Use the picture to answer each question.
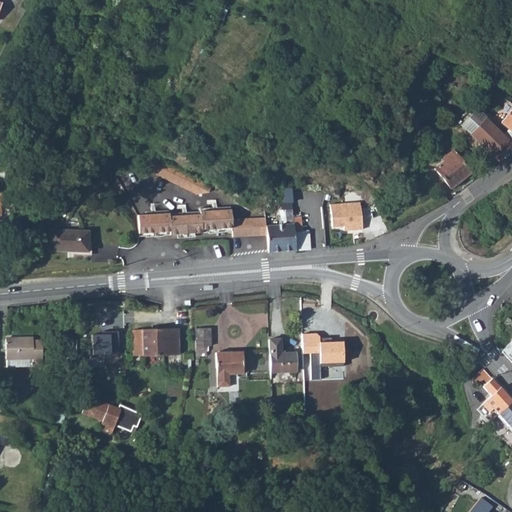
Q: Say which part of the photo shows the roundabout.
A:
right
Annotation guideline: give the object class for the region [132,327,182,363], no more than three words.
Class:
house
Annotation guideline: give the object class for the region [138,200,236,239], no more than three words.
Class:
building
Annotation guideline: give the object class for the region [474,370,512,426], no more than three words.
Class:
house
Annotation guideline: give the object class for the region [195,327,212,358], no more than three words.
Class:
shed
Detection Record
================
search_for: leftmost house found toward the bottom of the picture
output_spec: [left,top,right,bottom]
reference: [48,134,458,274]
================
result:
[5,336,43,369]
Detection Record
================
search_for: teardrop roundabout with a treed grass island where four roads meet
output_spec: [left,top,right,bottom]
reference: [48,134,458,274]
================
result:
[372,243,512,341]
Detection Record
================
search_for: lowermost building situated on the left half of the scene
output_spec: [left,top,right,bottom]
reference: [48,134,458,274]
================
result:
[82,404,141,434]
